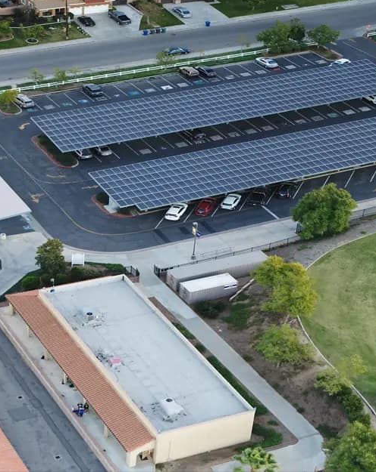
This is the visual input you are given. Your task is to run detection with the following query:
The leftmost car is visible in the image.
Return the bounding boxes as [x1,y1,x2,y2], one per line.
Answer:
[16,95,36,108]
